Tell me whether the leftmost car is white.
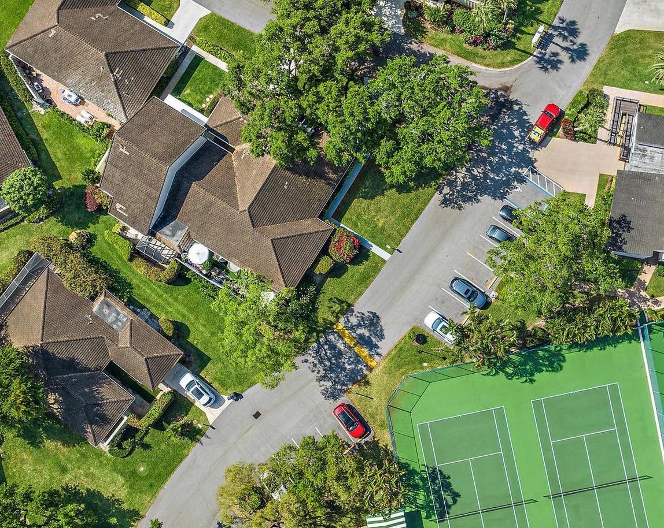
Yes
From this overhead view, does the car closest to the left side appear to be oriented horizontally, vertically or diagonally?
diagonally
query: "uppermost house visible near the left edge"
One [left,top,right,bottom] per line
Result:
[4,0,181,123]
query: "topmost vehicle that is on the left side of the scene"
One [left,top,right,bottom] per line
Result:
[178,374,215,405]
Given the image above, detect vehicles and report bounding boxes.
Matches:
[449,278,488,308]
[178,374,215,405]
[422,312,459,345]
[483,223,522,249]
[526,101,563,146]
[332,402,366,440]
[496,203,532,232]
